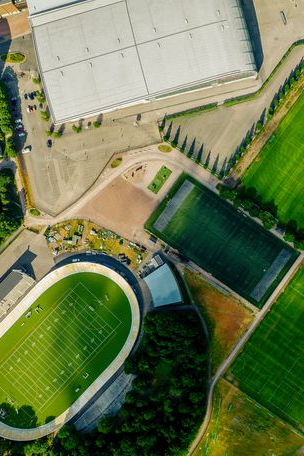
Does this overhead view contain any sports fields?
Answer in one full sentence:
Yes, you can see a sports field in this photo.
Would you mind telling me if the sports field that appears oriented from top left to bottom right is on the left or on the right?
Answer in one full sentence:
The sports field that appears oriented from top left to bottom right is on the right side of the image.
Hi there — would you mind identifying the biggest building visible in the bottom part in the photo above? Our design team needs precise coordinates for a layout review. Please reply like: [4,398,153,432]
[144,263,184,306]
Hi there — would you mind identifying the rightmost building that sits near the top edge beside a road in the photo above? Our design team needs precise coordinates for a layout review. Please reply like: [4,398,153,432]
[27,0,258,129]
